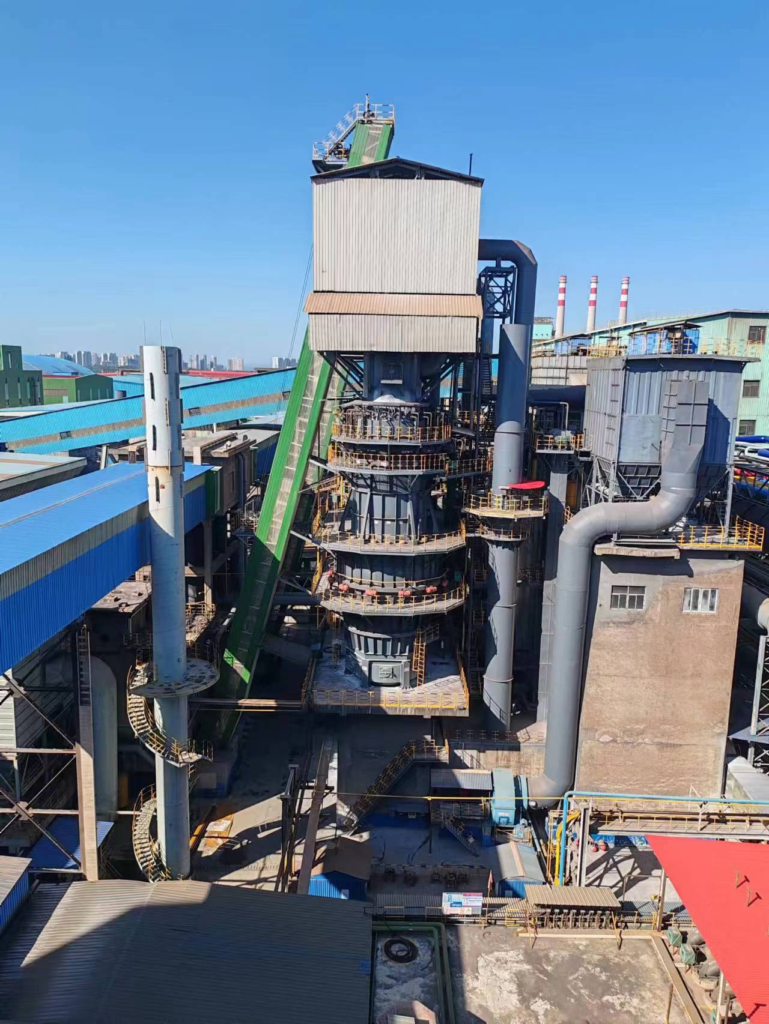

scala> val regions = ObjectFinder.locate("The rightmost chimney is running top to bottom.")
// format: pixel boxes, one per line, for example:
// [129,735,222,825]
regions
[616,277,630,328]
